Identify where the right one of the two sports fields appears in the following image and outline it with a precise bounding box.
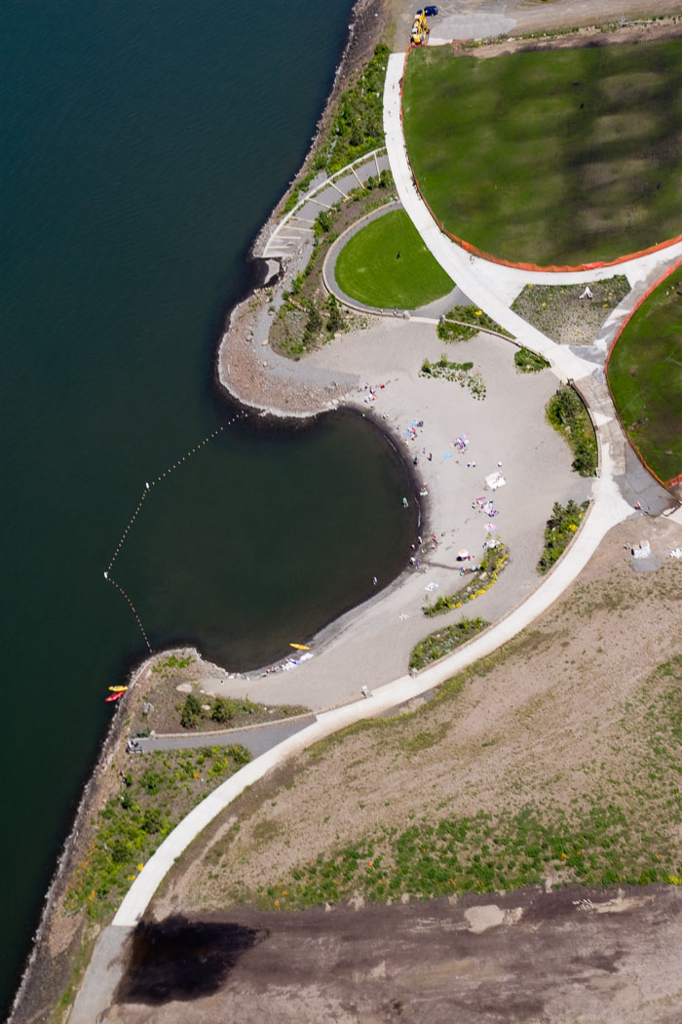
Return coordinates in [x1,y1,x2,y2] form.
[612,262,682,483]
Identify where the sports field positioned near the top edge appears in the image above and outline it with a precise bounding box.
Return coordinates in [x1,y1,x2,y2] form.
[404,38,682,270]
